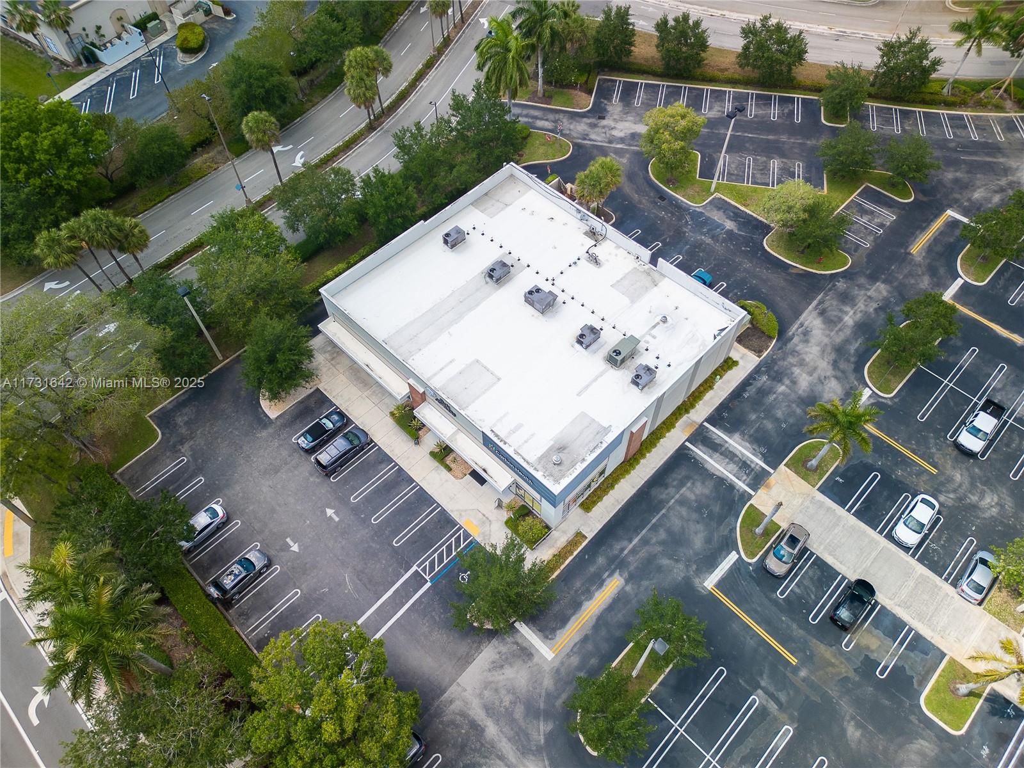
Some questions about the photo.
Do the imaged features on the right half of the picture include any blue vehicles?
Yes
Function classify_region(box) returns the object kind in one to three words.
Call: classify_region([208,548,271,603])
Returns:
car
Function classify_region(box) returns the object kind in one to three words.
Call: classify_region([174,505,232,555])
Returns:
car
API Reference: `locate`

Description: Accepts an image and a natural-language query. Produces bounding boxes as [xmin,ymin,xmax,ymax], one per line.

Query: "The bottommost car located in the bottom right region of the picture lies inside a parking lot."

[828,579,878,634]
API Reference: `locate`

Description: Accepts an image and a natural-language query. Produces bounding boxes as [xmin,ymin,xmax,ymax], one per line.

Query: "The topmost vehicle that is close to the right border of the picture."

[952,398,1009,458]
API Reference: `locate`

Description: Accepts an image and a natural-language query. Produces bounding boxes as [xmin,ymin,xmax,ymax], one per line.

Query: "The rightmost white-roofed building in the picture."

[315,165,745,526]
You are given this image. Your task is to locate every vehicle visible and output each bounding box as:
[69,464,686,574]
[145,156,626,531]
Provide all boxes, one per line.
[828,579,878,634]
[693,269,720,290]
[760,525,812,580]
[174,505,232,555]
[208,548,271,603]
[952,398,1009,458]
[953,547,999,601]
[294,411,344,452]
[892,494,941,547]
[314,431,371,478]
